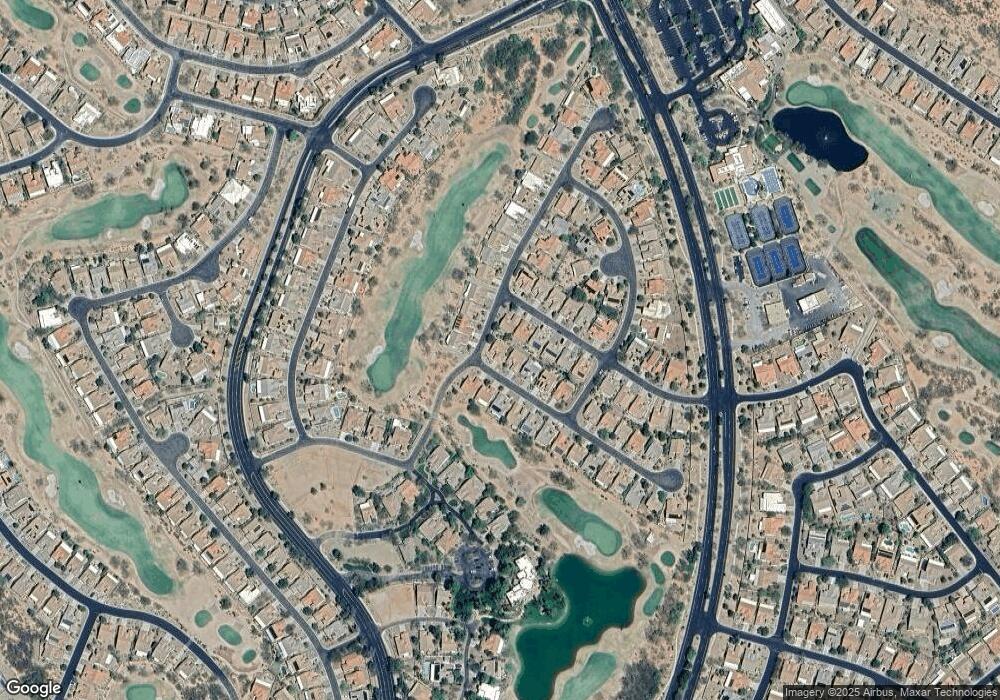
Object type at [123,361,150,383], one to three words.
house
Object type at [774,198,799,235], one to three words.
tennis court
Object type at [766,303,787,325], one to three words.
building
